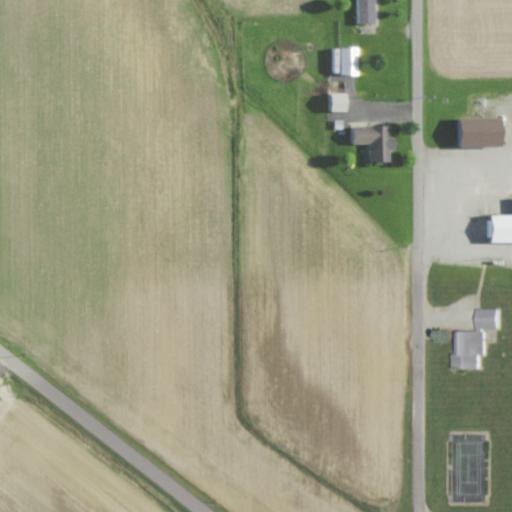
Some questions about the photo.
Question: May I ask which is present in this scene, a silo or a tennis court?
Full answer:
There is a tennis court in the scene.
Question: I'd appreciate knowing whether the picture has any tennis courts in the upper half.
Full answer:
No, no tennis court is visible in the upper half.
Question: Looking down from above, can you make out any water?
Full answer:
No, the picture contains no water.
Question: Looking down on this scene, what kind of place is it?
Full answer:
What you see here is farmland.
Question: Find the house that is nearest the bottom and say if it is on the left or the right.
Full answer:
The house that is nearest the bottom is on the right side of the image.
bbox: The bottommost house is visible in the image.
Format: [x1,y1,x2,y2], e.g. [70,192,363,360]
[450,332,488,372]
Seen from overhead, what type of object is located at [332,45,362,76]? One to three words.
barn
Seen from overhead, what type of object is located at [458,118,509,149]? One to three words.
house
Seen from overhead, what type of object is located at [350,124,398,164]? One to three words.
house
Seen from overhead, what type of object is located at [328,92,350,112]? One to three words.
building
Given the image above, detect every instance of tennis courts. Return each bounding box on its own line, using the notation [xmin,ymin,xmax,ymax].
[447,431,491,506]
